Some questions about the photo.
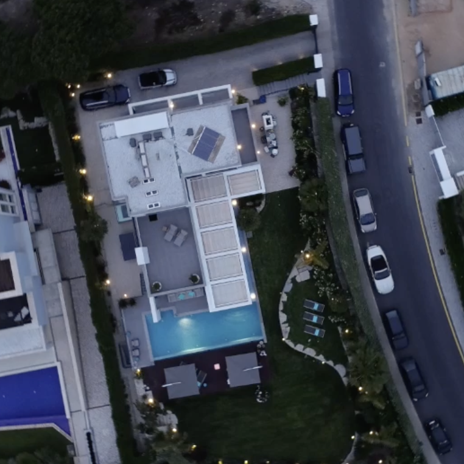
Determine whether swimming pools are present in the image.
Yes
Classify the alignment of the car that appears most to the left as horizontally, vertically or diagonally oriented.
horizontally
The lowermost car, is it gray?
No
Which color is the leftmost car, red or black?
black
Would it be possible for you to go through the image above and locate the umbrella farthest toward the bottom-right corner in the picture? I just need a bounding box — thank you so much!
[225,352,267,387]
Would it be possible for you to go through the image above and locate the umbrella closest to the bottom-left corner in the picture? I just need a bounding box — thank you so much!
[162,364,200,399]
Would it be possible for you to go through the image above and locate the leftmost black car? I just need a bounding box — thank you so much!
[79,84,131,110]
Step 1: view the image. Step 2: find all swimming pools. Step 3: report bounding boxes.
[141,221,269,365]
[0,362,73,441]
